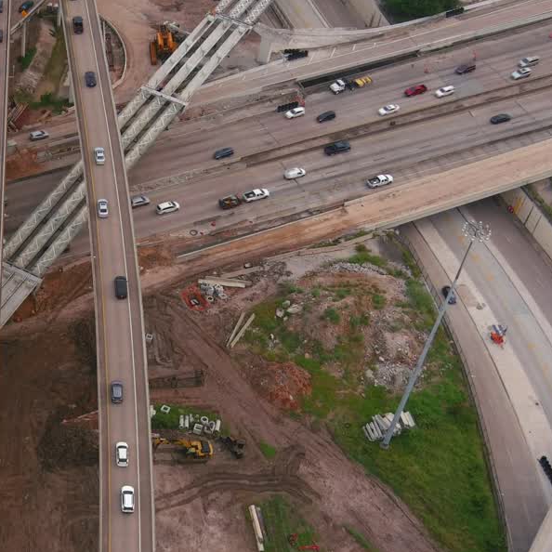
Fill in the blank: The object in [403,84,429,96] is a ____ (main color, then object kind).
red vehicle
